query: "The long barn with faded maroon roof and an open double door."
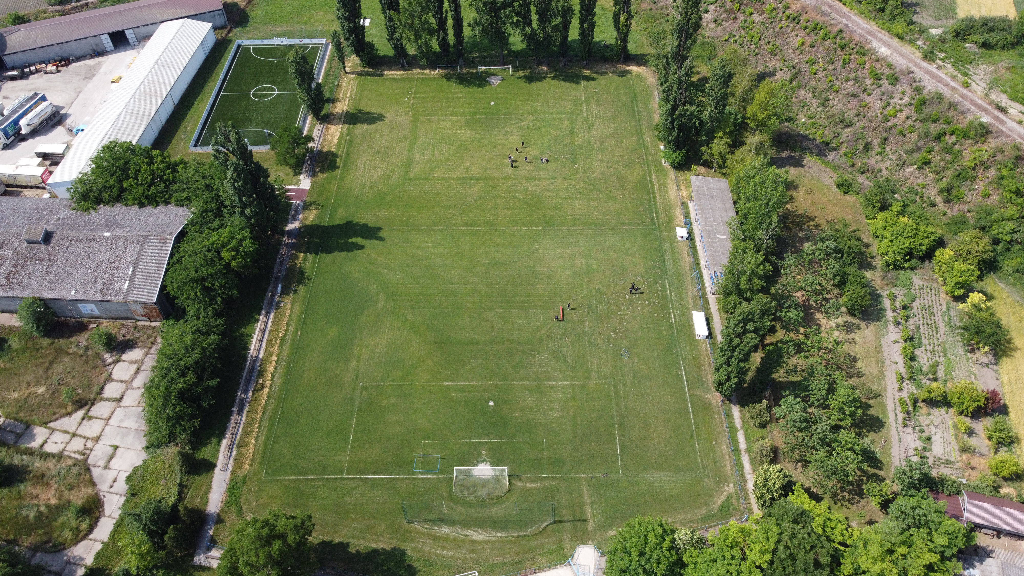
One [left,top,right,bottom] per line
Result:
[0,0,229,68]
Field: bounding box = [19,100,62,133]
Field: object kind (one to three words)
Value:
trailer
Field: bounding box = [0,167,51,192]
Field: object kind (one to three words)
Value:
trailer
